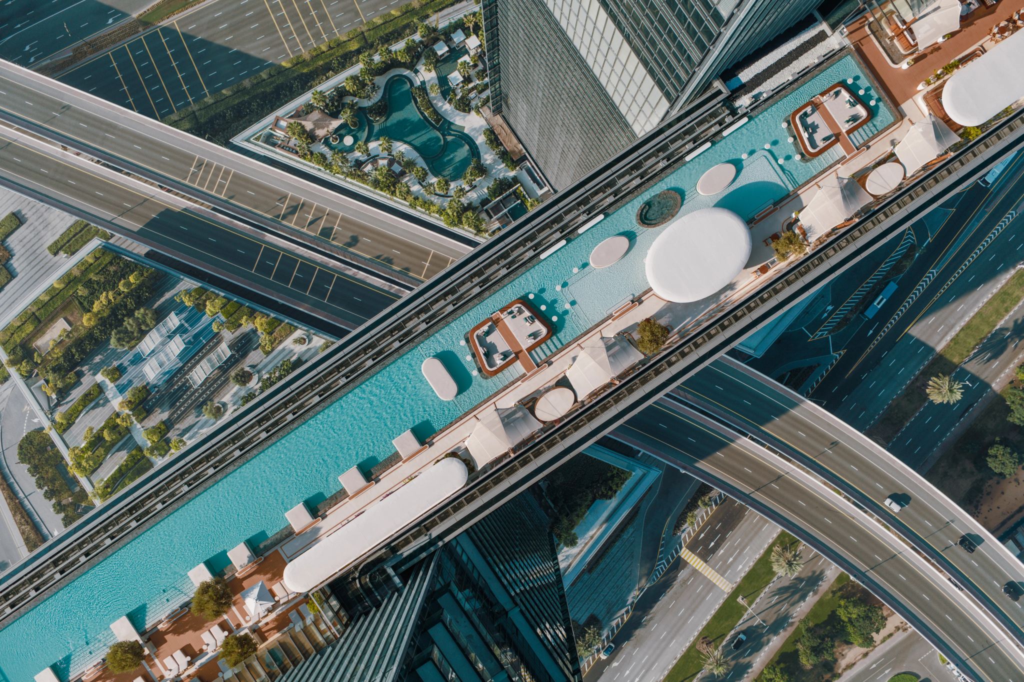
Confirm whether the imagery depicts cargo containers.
No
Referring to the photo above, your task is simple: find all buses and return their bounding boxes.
[860,281,898,321]
[977,151,1020,188]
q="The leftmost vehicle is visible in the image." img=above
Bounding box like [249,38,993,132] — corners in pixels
[600,641,615,659]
